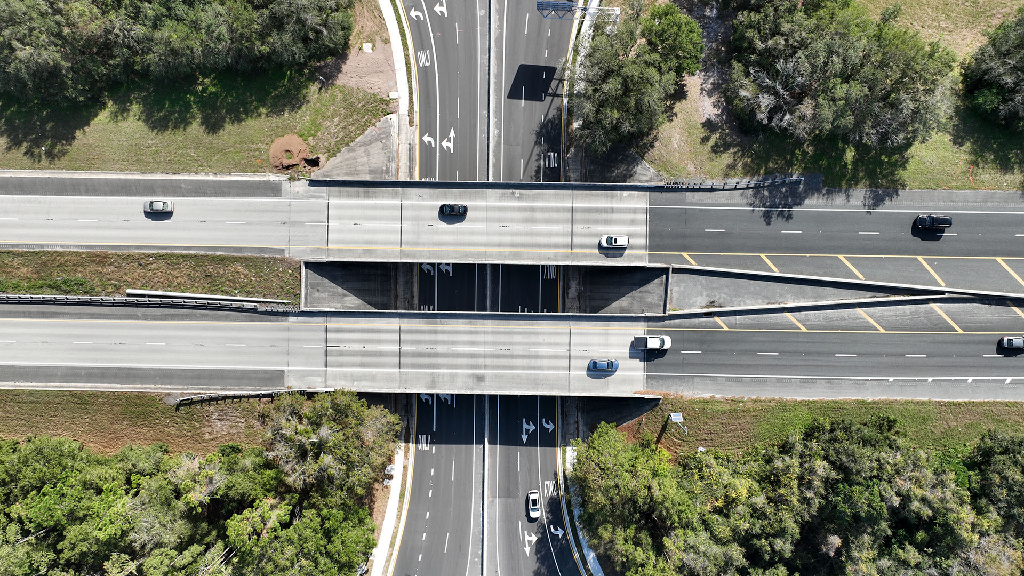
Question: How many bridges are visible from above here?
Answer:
2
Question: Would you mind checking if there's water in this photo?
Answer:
No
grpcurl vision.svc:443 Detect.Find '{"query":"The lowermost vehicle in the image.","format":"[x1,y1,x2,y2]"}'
[528,489,541,518]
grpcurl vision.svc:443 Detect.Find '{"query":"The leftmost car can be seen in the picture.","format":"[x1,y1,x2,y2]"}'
[145,199,176,213]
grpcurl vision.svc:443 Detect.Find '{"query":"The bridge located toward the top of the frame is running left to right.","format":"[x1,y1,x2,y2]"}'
[302,181,666,267]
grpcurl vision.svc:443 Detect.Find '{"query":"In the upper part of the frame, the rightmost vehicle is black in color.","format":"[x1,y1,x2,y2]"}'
[915,214,953,228]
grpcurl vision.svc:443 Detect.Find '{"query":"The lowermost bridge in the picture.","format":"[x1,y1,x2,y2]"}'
[301,311,669,397]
